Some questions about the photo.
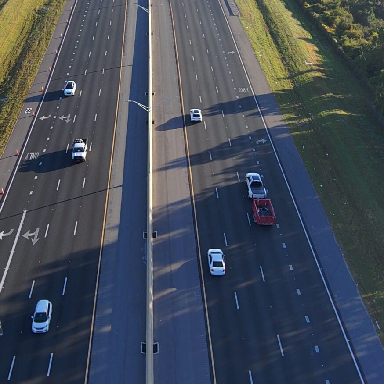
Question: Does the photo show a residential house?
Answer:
No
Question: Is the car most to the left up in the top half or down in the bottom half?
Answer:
bottom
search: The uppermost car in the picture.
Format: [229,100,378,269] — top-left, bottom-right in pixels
[64,83,76,95]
